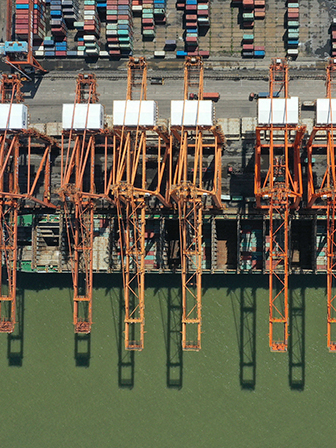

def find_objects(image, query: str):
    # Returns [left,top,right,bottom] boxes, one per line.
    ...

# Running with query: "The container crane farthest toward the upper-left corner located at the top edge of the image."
[0,0,55,74]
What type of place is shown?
port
